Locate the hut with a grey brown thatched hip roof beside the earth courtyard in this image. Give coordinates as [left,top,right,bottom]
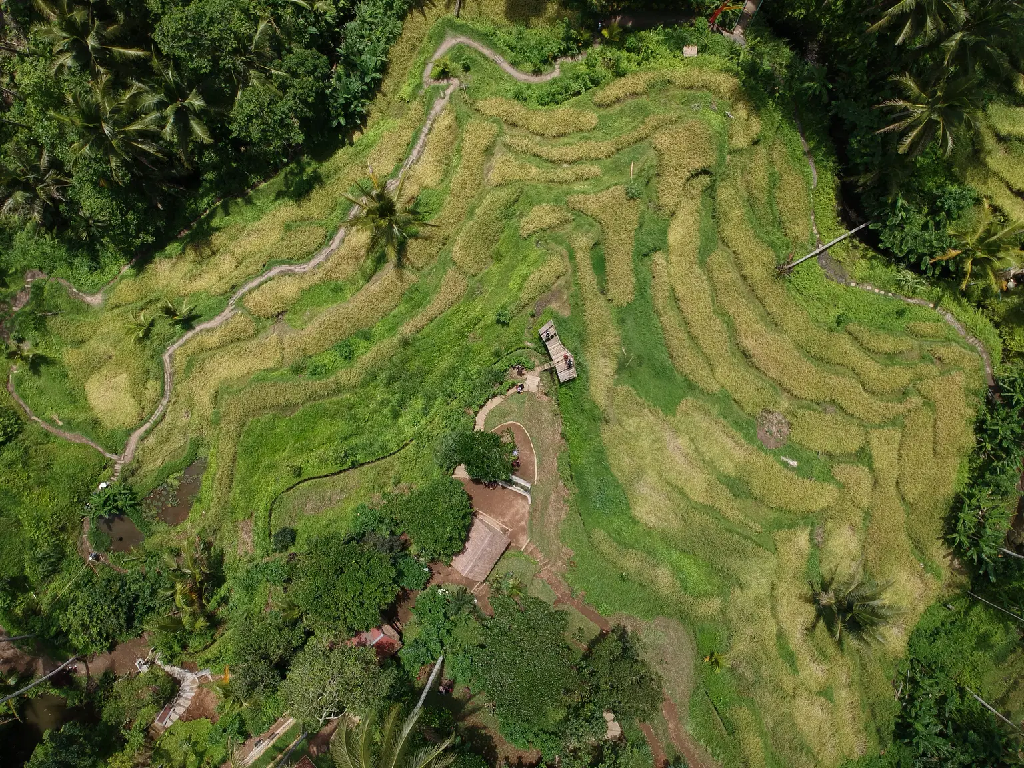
[449,514,512,582]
